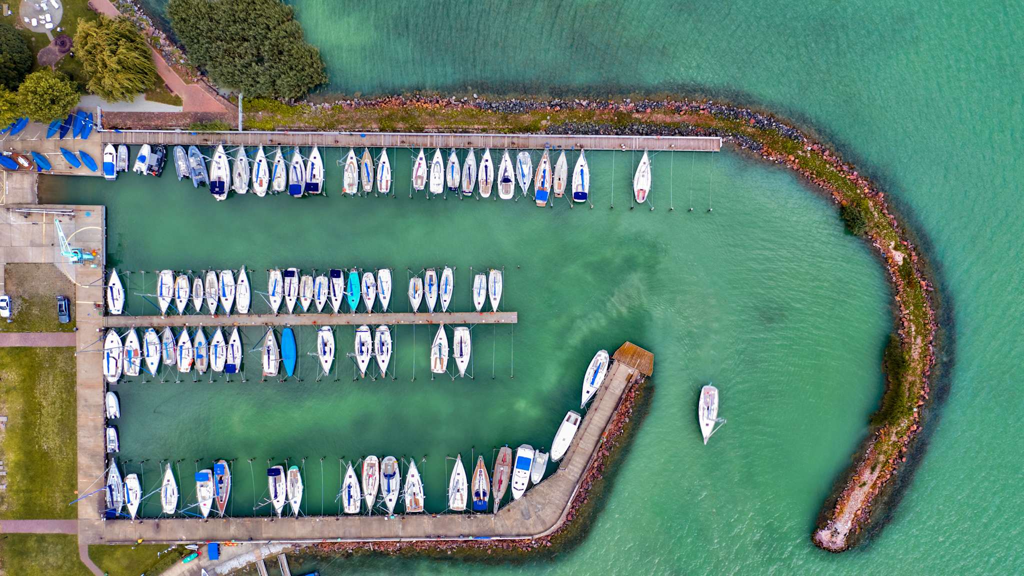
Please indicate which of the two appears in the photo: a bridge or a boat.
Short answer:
boat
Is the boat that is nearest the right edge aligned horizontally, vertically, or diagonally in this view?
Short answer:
vertically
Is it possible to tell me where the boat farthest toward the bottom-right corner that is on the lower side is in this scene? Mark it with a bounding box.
[696,385,724,446]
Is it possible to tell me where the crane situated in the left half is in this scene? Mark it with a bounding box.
[54,218,98,263]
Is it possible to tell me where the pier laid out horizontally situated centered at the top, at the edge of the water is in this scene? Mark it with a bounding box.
[99,130,722,152]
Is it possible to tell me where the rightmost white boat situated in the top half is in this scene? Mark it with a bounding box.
[633,149,657,204]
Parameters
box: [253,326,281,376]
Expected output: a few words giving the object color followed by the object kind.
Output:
white boat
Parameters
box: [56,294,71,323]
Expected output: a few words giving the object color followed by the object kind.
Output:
blue car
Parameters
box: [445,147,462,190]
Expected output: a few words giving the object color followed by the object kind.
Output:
white boat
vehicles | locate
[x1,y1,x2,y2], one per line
[56,294,71,323]
[0,295,12,318]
